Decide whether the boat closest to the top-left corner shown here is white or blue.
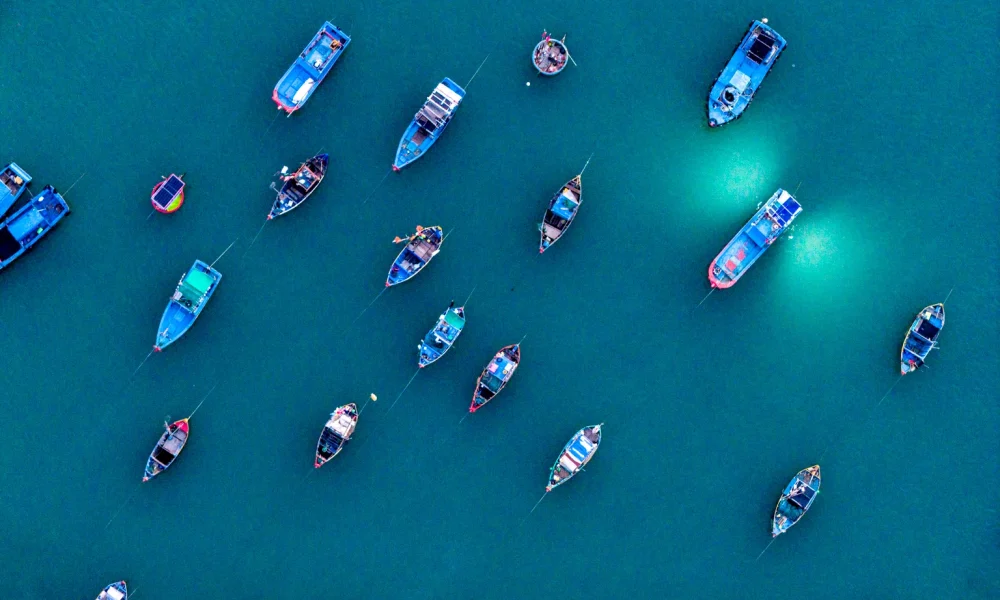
blue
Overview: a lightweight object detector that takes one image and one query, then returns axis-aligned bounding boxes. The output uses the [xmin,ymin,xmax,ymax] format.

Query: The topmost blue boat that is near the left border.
[0,163,32,222]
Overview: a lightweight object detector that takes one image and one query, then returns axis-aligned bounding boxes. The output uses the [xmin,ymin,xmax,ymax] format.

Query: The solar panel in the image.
[151,174,188,209]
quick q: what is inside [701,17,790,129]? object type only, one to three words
boat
